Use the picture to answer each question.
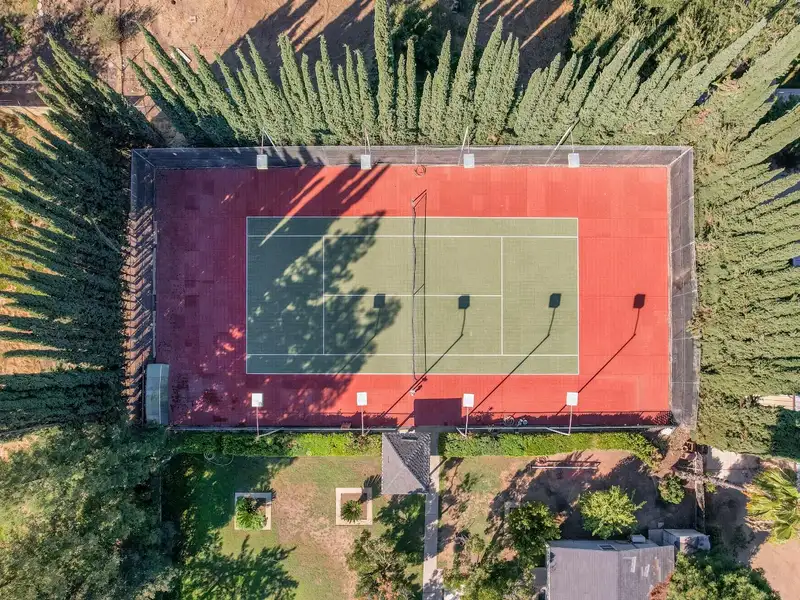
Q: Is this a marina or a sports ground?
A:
sports ground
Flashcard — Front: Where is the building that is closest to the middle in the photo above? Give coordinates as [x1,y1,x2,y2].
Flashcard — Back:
[382,432,436,495]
